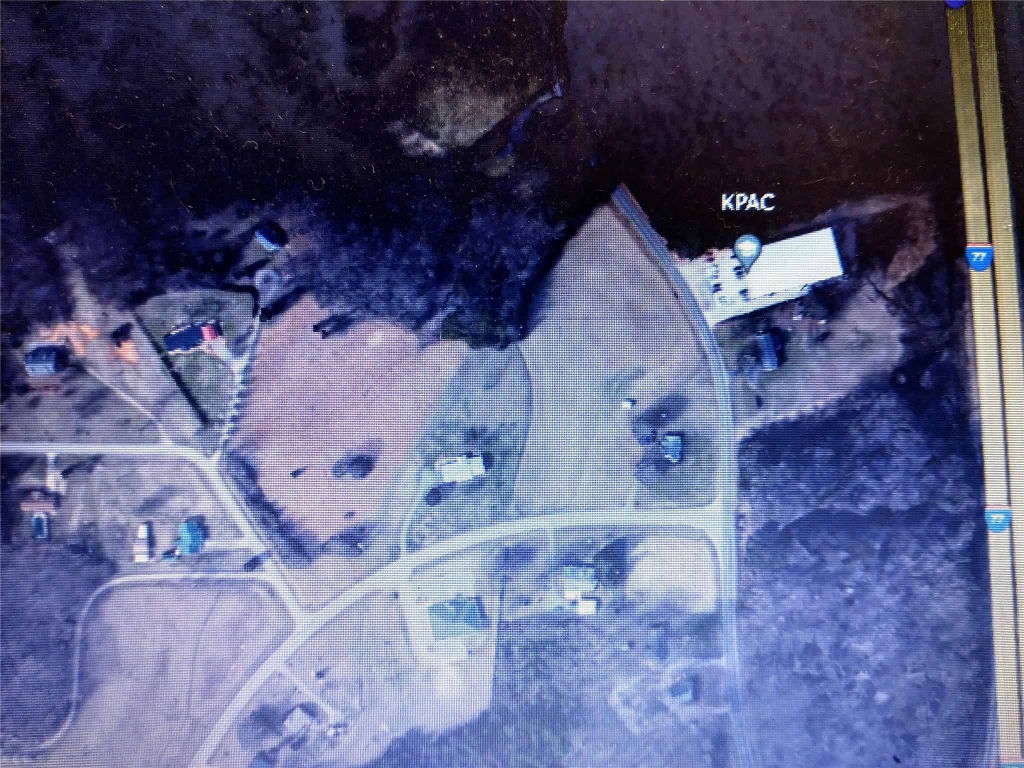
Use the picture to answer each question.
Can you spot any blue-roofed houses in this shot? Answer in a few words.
Yes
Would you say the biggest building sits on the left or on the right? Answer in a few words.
right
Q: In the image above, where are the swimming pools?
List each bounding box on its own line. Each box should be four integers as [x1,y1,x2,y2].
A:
[33,513,48,539]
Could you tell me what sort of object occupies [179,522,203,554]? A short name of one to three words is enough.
barn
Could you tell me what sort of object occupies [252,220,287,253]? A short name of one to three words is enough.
house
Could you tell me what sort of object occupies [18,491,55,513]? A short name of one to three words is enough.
house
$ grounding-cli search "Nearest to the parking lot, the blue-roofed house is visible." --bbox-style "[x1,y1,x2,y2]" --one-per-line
[758,332,785,371]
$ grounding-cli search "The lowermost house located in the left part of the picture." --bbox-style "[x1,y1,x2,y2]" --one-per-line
[284,707,312,735]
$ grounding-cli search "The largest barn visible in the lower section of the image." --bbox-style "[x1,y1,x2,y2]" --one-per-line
[428,598,486,641]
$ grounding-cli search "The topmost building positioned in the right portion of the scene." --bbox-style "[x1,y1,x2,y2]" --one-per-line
[745,228,844,297]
